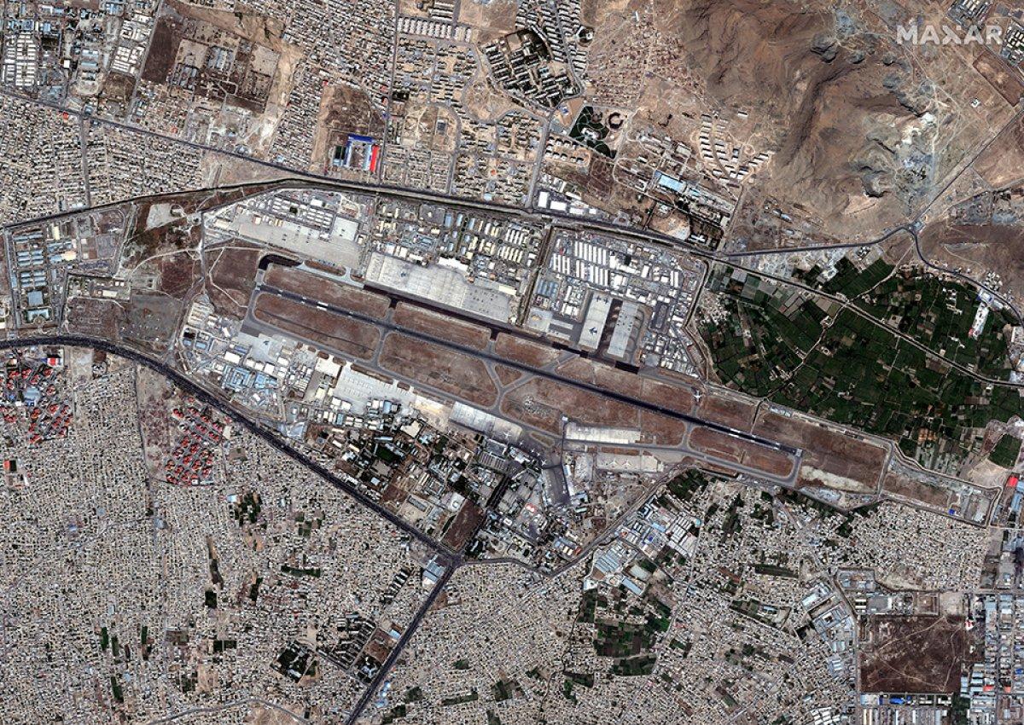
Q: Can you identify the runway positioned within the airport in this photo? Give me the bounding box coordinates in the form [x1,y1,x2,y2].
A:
[256,283,801,456]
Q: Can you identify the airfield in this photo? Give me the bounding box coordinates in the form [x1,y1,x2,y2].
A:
[213,205,887,507]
